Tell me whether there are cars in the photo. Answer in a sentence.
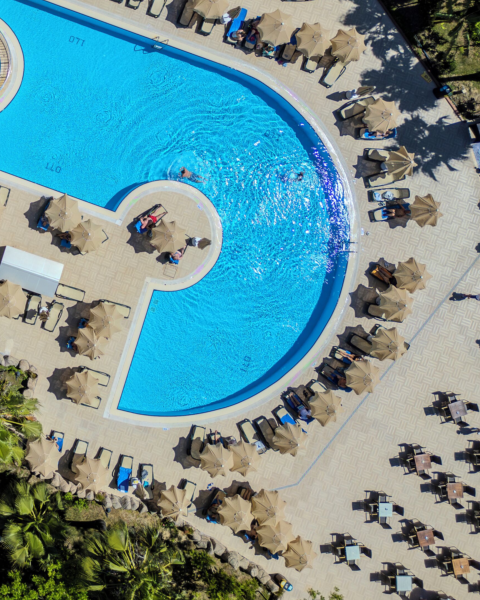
No, I can't see a single car in this photo.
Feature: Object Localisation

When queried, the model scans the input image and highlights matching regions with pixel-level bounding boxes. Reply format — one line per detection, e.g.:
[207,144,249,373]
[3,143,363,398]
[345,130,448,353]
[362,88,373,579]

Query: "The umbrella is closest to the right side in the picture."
[410,194,450,229]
